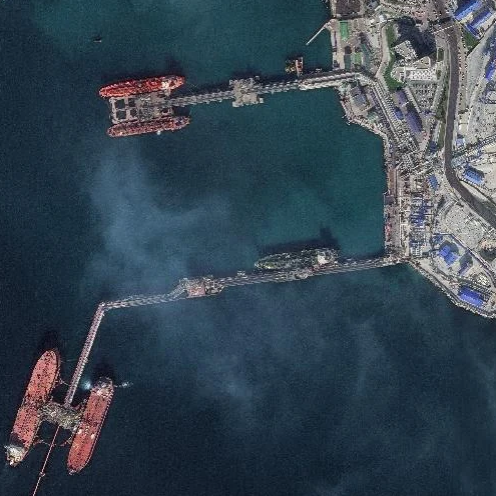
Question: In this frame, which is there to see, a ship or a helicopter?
ship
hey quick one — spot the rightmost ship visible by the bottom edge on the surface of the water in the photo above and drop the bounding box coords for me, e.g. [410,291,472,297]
[69,376,110,474]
